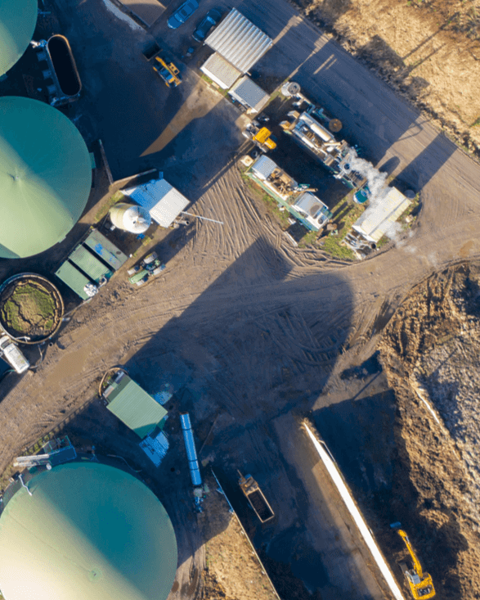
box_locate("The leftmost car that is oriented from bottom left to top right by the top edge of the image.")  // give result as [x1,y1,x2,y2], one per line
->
[167,0,198,29]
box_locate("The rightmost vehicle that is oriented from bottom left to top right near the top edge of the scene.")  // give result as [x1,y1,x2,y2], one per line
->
[191,8,221,41]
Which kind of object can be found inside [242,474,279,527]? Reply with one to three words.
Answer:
trailer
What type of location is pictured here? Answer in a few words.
industrial area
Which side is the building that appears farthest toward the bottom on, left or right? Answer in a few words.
left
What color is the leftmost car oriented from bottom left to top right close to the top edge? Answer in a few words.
blue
